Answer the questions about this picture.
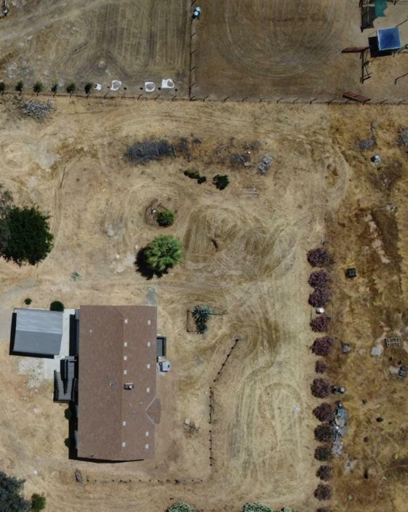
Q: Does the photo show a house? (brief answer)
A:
Yes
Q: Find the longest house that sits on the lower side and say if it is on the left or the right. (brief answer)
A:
left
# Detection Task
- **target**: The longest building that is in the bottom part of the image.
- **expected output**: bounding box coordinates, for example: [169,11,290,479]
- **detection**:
[74,305,162,464]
